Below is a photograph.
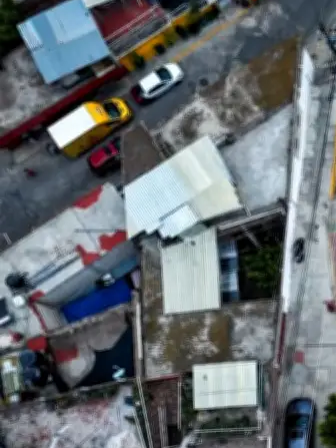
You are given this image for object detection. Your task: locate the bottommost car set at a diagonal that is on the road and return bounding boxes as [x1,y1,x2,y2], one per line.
[78,131,131,176]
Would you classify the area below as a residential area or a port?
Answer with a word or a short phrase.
residential area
